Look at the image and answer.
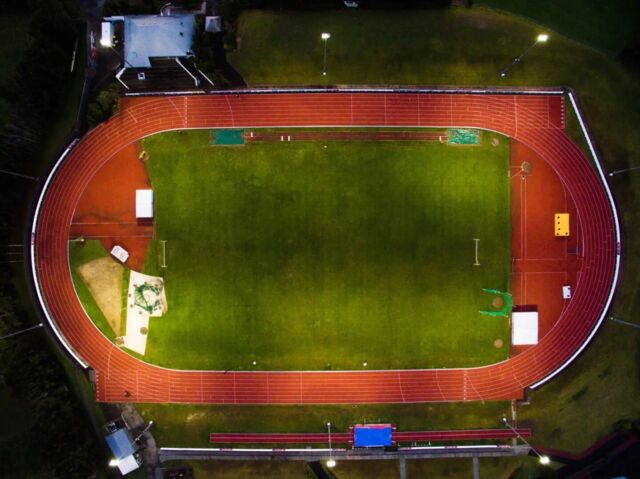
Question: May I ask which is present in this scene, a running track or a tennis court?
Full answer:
Of the two, only a running track appears.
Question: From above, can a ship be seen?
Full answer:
No, there is no ship in the image.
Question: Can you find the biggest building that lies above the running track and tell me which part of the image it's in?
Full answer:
The biggest building that lies above the running track appears toward the top left of the photo.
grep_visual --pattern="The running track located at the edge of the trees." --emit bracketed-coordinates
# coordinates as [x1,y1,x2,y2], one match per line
[36,93,615,405]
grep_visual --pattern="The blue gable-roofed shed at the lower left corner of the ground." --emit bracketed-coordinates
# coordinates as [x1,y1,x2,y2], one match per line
[105,426,138,460]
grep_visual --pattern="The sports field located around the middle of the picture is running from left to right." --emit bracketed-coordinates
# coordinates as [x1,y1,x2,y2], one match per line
[69,127,583,371]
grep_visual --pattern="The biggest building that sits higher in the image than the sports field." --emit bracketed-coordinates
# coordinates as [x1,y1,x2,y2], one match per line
[124,14,197,69]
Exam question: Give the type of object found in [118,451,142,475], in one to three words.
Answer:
shed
